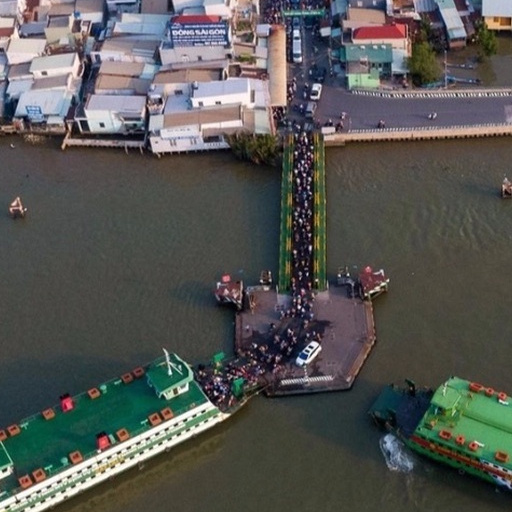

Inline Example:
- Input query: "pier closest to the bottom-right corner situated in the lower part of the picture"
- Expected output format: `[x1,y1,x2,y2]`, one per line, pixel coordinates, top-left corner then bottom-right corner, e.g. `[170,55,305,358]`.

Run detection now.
[233,283,378,401]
